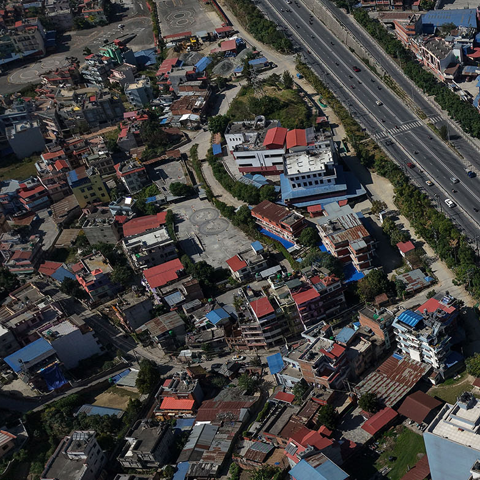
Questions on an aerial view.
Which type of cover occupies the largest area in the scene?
buildings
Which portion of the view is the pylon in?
top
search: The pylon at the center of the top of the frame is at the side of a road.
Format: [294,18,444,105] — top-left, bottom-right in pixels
[242,61,264,101]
